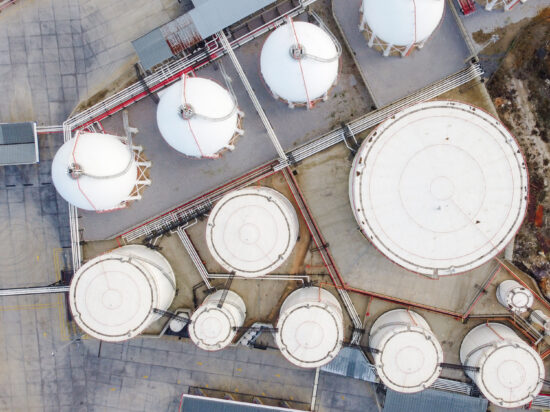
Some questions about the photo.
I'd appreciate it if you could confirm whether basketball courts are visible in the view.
No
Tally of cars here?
zero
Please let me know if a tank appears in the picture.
Yes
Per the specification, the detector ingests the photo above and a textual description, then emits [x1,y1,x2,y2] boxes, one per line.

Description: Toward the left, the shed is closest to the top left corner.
[132,28,176,73]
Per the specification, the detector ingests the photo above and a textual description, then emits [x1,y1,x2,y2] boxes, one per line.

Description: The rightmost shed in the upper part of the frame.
[186,0,280,45]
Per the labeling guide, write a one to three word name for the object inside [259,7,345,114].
storage tank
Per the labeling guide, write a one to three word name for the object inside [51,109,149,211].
storage tank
